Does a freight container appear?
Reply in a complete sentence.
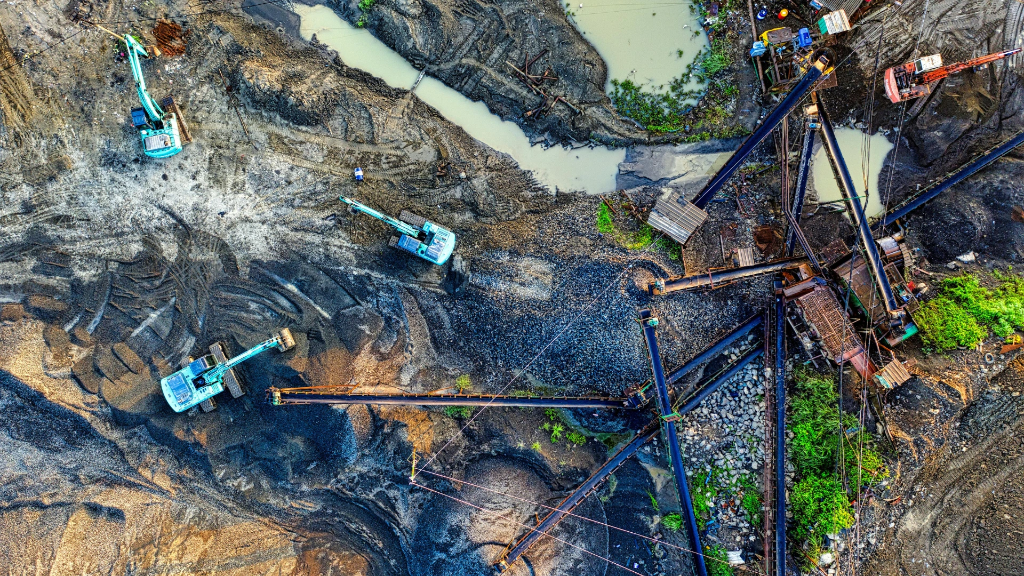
No, the frame has no freight container in it.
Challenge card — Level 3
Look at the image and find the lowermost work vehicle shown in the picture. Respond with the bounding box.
[163,322,300,419]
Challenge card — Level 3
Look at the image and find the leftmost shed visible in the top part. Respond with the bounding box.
[647,192,709,246]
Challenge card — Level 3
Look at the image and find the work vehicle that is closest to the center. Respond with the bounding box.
[331,191,455,269]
